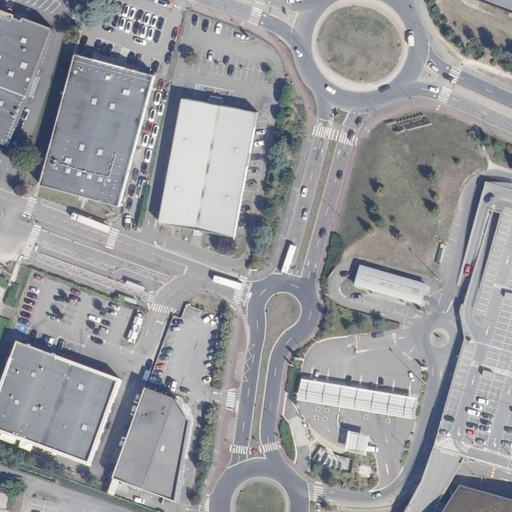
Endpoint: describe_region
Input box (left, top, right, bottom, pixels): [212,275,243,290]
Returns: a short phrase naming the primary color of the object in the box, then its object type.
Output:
white vehicle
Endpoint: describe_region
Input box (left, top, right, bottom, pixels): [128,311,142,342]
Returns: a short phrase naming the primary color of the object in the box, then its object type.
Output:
white vehicle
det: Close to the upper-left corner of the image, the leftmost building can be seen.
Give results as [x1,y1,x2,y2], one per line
[0,10,56,148]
